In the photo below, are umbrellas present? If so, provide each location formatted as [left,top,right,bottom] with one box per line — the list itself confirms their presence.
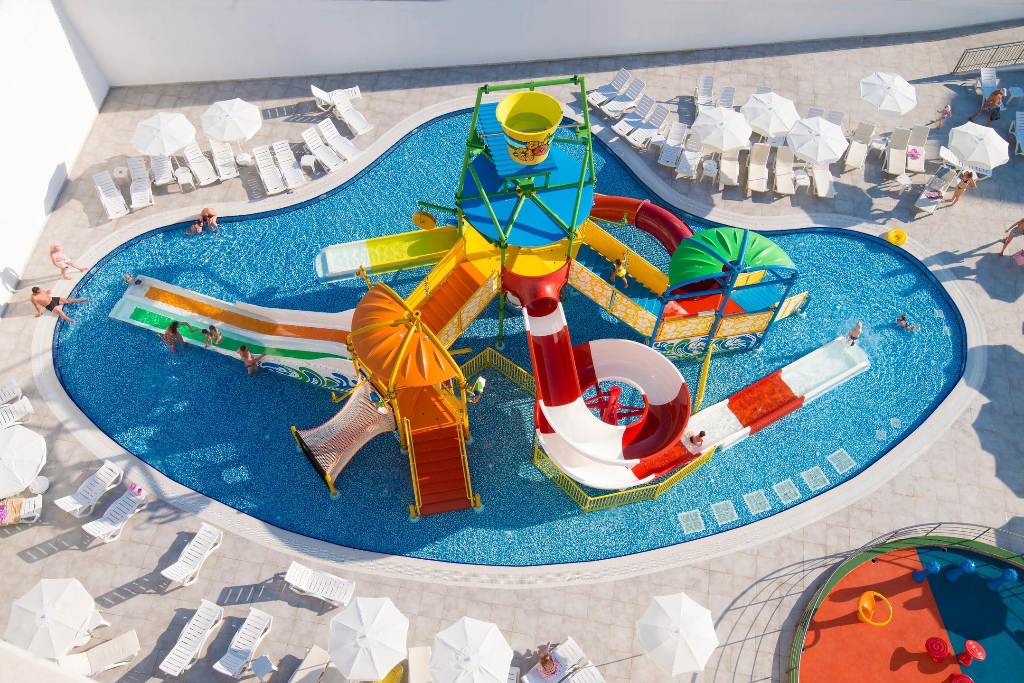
[782,122,841,190]
[690,111,746,178]
[8,577,102,662]
[634,595,716,677]
[737,96,796,163]
[325,597,410,683]
[943,124,1003,194]
[0,430,57,503]
[860,77,916,123]
[204,102,264,168]
[134,120,197,190]
[431,620,516,683]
